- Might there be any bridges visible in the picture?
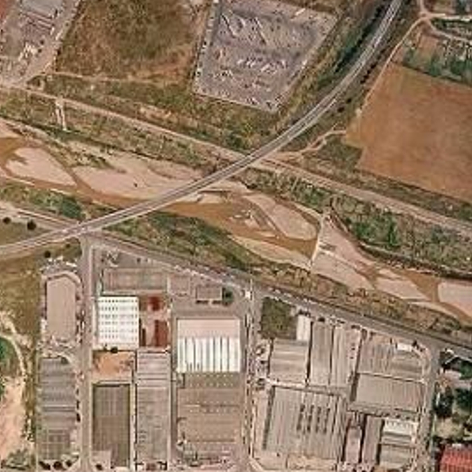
Yes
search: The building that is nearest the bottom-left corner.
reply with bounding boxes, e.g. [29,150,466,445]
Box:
[39,428,70,459]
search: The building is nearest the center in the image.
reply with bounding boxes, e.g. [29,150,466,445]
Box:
[197,285,222,301]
